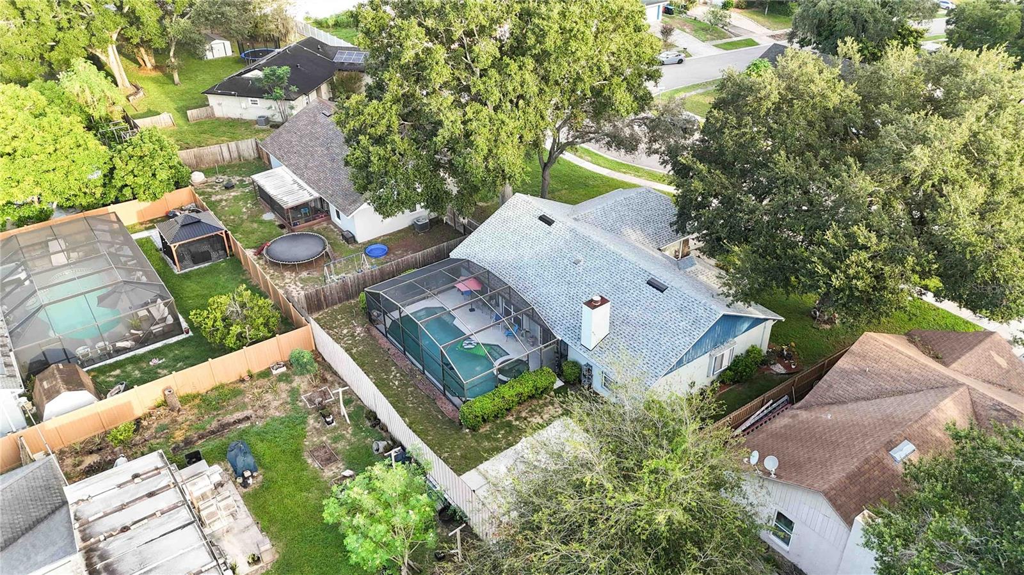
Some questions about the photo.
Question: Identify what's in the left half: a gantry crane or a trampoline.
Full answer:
Looking in the left half, you will find a trampoline.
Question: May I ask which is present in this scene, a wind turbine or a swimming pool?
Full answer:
Looking from above, you can make out a swimming pool.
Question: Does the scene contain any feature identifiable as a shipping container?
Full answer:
No, there isn't any shipping container down there.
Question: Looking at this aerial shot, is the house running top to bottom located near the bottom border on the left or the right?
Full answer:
The house running top to bottom located near the bottom border sits on the left side.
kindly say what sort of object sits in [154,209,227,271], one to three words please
gazebo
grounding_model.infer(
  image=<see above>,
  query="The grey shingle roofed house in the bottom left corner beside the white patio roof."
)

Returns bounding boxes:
[0,360,97,575]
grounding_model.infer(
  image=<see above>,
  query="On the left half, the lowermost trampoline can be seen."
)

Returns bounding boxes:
[263,233,329,275]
